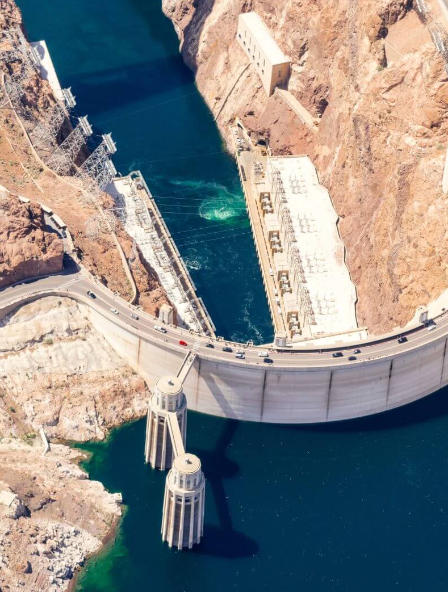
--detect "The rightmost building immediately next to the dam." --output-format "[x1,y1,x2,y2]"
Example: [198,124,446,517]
[234,126,359,348]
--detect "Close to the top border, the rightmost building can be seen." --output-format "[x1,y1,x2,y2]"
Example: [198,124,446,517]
[236,12,291,94]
